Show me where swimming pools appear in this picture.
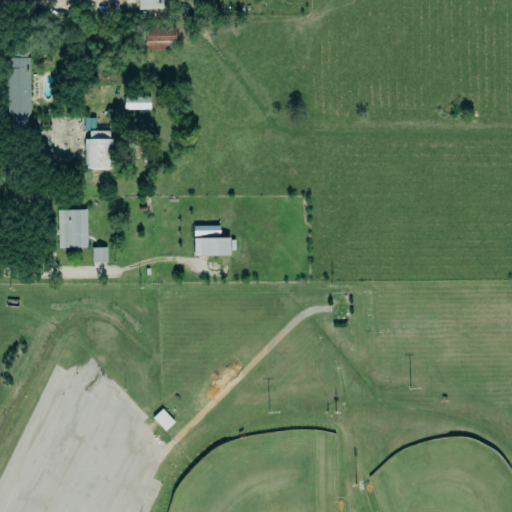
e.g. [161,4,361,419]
[32,72,54,102]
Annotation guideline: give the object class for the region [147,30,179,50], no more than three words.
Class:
barn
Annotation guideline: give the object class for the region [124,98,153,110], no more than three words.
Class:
house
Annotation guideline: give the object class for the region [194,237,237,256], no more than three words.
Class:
house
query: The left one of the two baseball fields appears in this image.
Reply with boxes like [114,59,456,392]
[168,430,344,512]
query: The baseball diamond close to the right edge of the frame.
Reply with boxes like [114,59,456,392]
[366,436,512,512]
